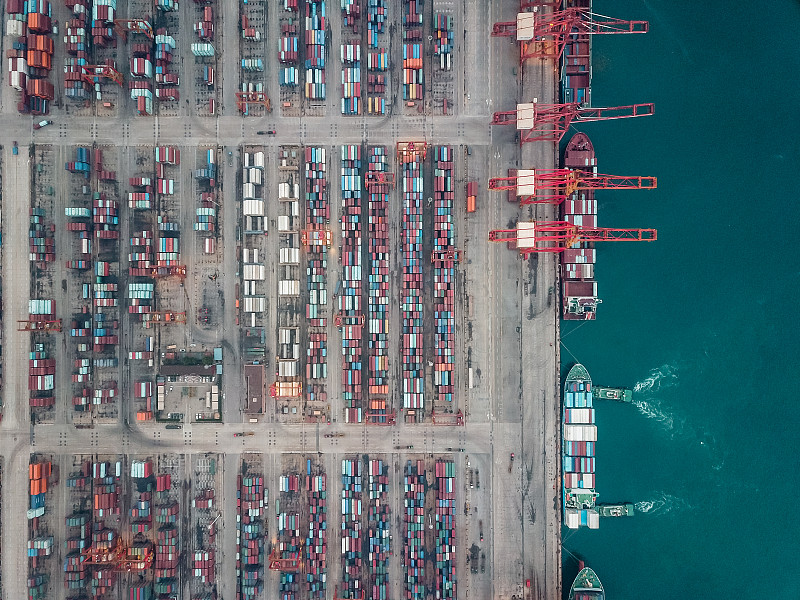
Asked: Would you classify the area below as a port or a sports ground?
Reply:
port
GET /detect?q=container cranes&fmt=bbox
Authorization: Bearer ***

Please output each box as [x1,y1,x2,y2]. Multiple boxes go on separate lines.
[490,9,649,68]
[145,266,188,279]
[112,548,155,572]
[77,65,123,86]
[331,313,366,327]
[490,101,656,149]
[266,545,303,572]
[12,319,62,331]
[395,141,429,160]
[78,541,124,564]
[363,408,397,424]
[145,311,188,324]
[297,230,334,245]
[269,381,306,398]
[112,19,155,41]
[490,165,659,208]
[362,173,397,190]
[430,250,466,263]
[232,92,270,112]
[490,216,659,255]
[432,408,468,424]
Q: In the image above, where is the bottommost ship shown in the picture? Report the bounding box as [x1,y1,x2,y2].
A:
[566,555,607,600]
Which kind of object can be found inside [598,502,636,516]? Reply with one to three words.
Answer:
boat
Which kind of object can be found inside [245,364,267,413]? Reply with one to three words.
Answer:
building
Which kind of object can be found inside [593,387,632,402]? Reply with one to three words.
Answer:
boat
